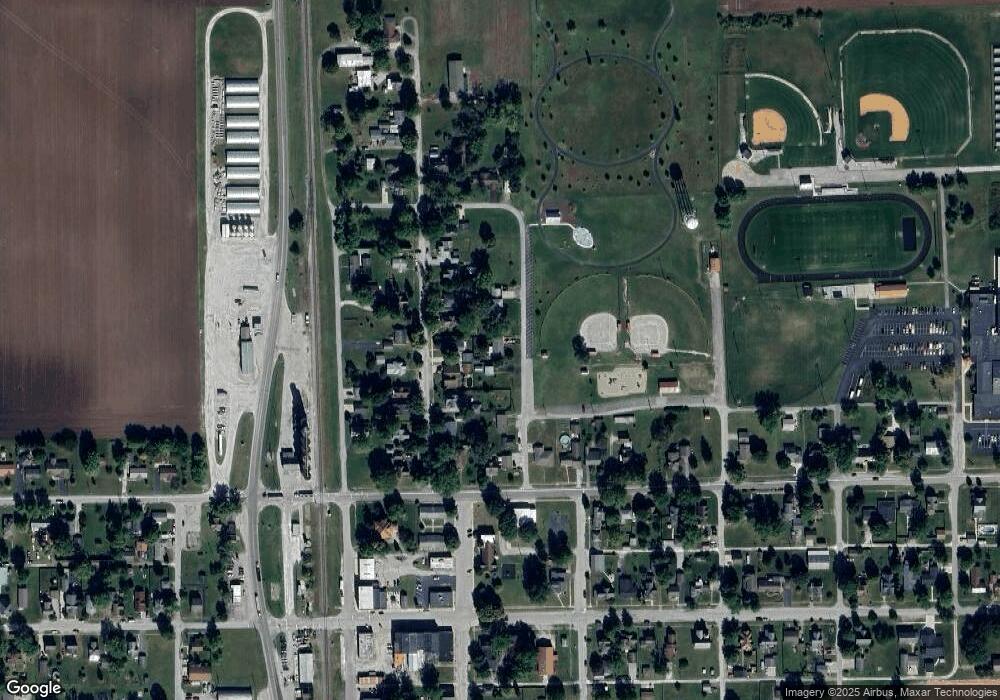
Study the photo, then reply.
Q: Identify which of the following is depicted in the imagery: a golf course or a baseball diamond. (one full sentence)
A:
The image shows a baseball diamond.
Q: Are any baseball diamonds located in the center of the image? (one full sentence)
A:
Yes, there is a baseball diamond in the center of the image.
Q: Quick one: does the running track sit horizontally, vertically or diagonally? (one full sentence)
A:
Seen from above, the running track lies horizontally.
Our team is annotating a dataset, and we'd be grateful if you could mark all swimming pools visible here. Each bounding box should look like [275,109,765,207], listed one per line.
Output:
[979,524,999,535]
[560,435,570,450]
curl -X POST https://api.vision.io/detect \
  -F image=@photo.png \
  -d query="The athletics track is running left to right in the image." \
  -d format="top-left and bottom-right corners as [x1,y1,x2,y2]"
[738,194,932,280]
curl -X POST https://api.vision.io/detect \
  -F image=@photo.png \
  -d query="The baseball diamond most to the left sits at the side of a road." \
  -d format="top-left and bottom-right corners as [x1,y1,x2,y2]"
[539,276,619,358]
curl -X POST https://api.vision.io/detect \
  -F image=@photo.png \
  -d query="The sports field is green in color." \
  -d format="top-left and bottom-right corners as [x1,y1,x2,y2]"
[745,203,926,272]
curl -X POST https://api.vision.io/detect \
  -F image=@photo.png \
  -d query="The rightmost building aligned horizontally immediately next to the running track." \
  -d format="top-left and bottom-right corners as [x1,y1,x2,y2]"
[876,283,907,298]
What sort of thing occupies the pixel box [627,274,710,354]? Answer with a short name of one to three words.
baseball field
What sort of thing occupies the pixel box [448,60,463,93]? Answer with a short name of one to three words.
barn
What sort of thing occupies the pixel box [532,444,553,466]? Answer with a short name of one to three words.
house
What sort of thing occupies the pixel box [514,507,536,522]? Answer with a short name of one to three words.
building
